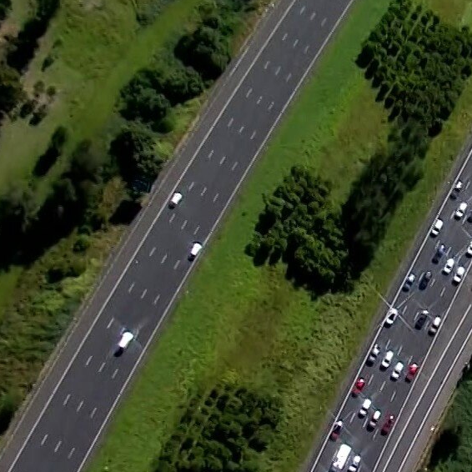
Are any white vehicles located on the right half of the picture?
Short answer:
Yes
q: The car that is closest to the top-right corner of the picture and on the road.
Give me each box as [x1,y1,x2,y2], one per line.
[450,182,463,198]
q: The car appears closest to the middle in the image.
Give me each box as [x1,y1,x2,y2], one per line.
[189,244,201,257]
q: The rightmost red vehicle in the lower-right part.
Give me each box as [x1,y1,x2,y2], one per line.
[405,364,418,380]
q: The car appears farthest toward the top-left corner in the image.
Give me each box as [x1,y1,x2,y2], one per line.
[169,192,182,208]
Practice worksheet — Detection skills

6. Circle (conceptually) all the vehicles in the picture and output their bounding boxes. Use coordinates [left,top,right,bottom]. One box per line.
[351,378,365,396]
[380,351,394,369]
[385,309,398,327]
[432,246,445,262]
[450,182,463,198]
[442,258,455,275]
[415,312,428,330]
[329,419,344,441]
[380,416,395,435]
[405,364,418,380]
[454,202,468,218]
[428,318,442,334]
[169,192,182,208]
[116,334,133,352]
[466,240,472,256]
[431,219,443,236]
[453,266,465,284]
[402,274,415,292]
[368,410,381,429]
[358,399,371,417]
[348,455,361,472]
[418,272,432,290]
[367,347,380,365]
[189,244,201,257]
[391,362,404,380]
[330,441,350,472]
